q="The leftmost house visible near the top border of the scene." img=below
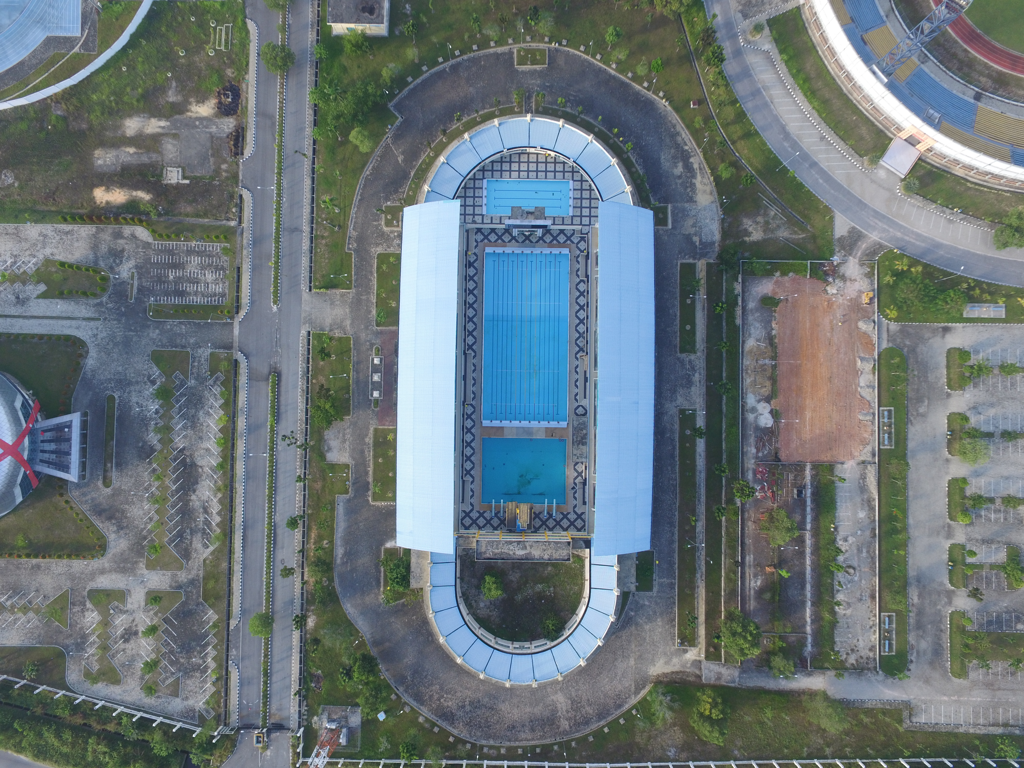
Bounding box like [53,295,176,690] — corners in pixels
[326,0,390,36]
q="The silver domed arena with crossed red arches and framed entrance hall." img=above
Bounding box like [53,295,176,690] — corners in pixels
[0,367,90,539]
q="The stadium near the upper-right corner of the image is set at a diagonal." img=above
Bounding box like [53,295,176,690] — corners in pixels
[798,0,1024,192]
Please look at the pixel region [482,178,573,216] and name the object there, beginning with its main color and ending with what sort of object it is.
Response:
blue swimming pool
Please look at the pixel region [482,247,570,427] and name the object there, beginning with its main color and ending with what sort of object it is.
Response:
blue swimming pool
